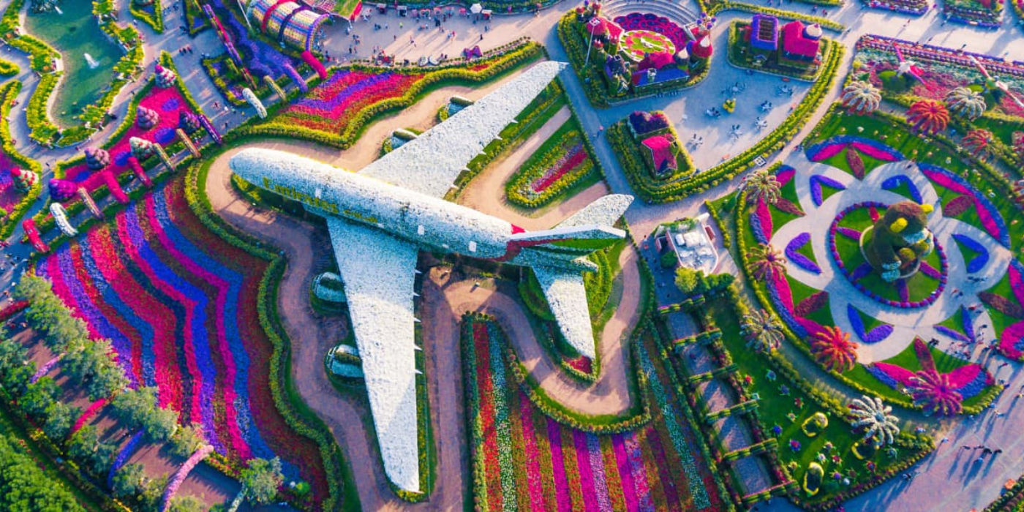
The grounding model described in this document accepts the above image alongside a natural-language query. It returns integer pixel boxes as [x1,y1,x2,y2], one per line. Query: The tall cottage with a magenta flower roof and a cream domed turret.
[775,20,827,75]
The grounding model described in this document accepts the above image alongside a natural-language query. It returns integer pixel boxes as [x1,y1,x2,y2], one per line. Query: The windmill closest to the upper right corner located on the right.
[952,54,1024,108]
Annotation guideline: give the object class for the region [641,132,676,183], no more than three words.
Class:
house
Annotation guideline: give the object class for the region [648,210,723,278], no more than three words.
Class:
building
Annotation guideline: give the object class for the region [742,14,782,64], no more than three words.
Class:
house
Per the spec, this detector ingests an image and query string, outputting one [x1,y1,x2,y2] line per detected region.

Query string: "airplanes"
[231,60,634,494]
